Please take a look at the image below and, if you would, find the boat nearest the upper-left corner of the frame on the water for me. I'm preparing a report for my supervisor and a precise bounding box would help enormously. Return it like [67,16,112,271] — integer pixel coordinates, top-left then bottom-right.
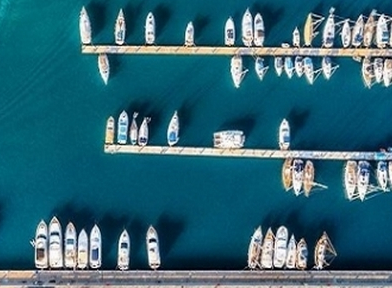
[78,6,91,46]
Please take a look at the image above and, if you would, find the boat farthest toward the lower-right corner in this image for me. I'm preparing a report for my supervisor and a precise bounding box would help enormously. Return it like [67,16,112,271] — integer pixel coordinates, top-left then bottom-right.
[314,232,339,270]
